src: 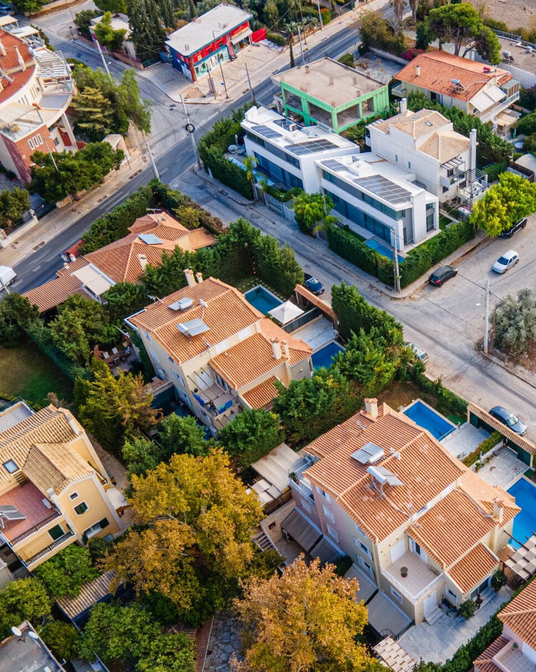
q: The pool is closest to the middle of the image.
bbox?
[242,281,289,313]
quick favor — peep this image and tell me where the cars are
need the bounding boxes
[2,4,14,14]
[427,265,459,287]
[484,399,532,438]
[299,271,330,299]
[490,248,523,274]
[406,339,436,366]
[498,213,531,239]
